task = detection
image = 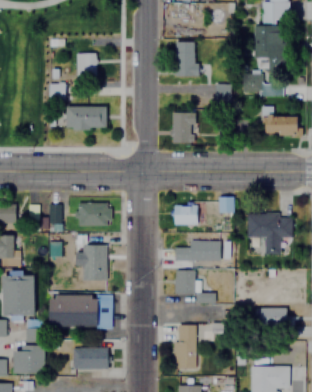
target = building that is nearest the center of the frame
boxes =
[174,202,200,225]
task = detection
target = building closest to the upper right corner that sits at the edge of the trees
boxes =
[263,0,291,23]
